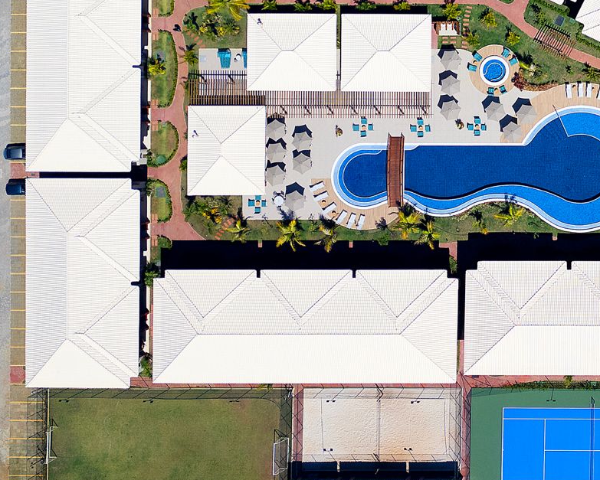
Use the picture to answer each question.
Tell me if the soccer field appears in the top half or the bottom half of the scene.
bottom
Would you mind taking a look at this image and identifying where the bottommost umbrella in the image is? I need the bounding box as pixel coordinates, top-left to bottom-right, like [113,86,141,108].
[287,190,307,212]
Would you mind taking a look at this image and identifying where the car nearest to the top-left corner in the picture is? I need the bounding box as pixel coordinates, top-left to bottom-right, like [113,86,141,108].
[2,142,28,159]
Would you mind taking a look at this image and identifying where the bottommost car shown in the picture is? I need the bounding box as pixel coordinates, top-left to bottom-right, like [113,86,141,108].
[5,180,26,194]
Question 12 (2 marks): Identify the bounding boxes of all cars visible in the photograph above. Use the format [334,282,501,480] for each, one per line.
[2,142,28,159]
[5,180,26,194]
